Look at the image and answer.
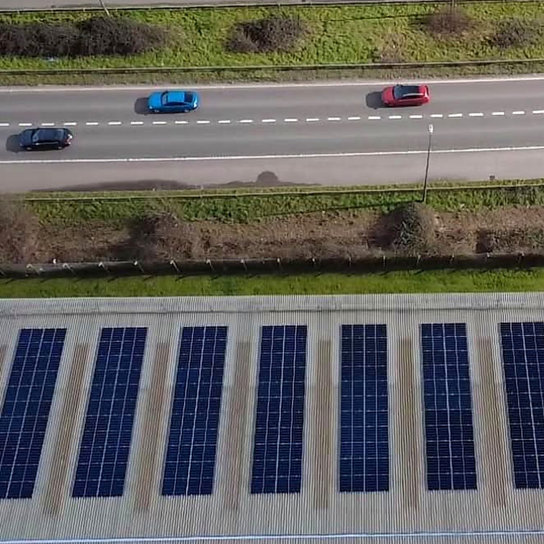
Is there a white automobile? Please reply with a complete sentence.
No, I can't see a single white automobile in this photo.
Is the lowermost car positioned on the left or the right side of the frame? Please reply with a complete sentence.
The lowermost car appears in the left half of the scene.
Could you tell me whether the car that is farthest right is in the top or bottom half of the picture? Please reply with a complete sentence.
The top half of the photo is where the car that is farthest right is.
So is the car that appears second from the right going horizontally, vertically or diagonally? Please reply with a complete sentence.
In this picture, the car that appears second from the right lies horizontally.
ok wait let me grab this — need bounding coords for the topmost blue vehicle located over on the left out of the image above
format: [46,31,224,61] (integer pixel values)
[146,88,200,111]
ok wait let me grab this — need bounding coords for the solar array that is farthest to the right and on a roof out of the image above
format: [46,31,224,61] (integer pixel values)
[499,322,544,490]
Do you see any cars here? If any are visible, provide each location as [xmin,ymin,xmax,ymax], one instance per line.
[378,81,431,106]
[16,126,76,149]
[146,88,200,111]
